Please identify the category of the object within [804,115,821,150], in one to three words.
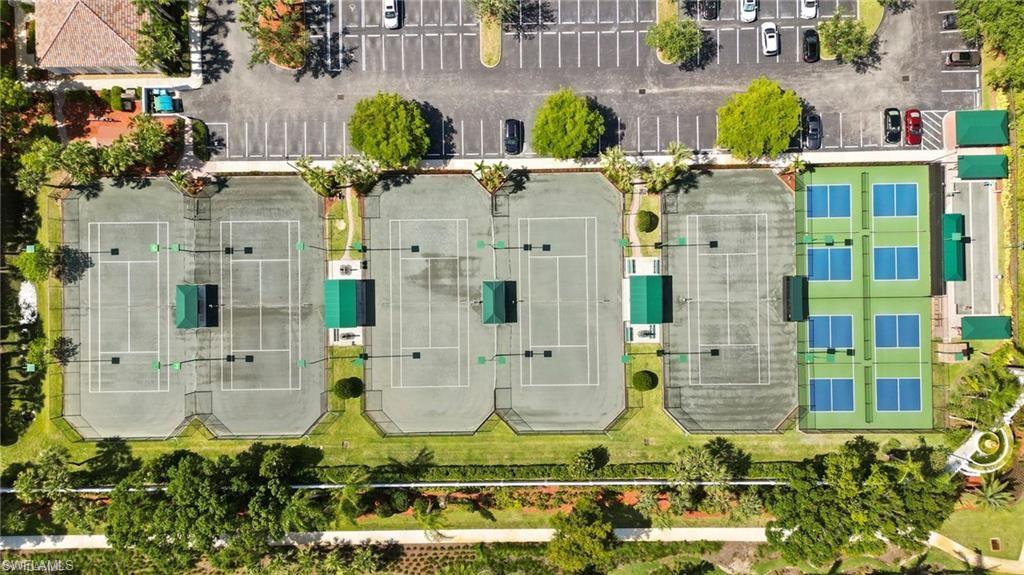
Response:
car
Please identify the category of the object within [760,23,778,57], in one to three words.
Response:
car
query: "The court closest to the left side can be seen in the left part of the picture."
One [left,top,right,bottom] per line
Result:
[62,178,193,438]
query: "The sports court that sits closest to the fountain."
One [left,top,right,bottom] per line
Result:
[866,295,933,430]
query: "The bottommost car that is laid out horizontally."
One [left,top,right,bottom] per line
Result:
[945,51,979,68]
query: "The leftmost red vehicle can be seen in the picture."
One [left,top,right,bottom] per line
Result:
[904,110,922,145]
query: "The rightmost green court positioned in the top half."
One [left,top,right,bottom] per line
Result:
[865,163,931,296]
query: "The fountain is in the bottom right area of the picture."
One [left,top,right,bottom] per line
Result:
[978,432,1002,455]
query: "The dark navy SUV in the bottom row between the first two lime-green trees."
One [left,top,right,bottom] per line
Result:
[505,120,521,154]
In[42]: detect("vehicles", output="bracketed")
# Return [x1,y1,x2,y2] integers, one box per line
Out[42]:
[945,51,979,68]
[904,110,922,145]
[383,0,399,29]
[804,115,821,150]
[505,120,521,154]
[883,109,901,143]
[702,0,717,22]
[800,0,817,20]
[802,30,819,64]
[760,23,778,57]
[740,0,757,25]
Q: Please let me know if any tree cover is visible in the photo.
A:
Yes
